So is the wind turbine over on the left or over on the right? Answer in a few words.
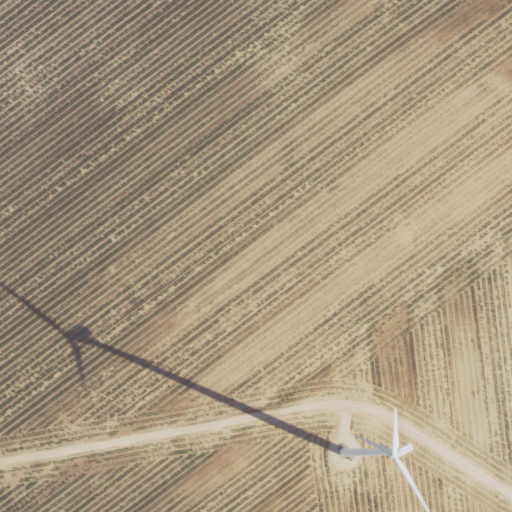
right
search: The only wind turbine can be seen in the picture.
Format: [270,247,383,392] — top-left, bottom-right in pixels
[338,408,432,512]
